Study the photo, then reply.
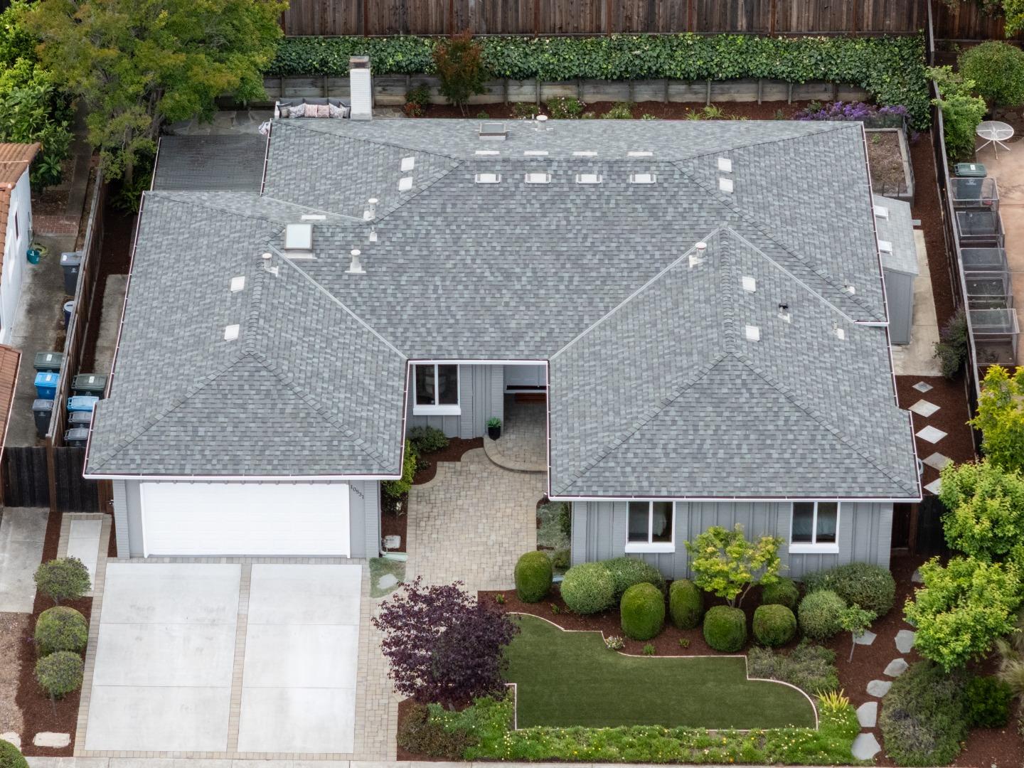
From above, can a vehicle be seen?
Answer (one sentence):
No, I can't see a single vehicle in this photo.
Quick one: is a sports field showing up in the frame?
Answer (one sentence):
No, I find no sports field anywhere in the image.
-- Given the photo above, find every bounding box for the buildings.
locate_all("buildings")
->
[83,50,921,581]
[0,141,40,484]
